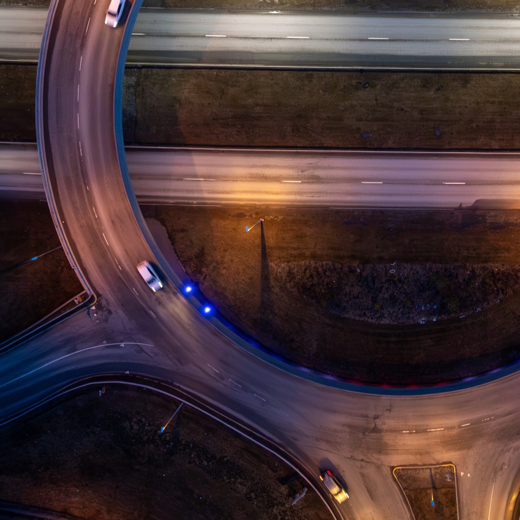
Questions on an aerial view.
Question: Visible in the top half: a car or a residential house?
car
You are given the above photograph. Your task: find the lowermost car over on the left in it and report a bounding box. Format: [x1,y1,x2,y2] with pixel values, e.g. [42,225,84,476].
[136,259,163,292]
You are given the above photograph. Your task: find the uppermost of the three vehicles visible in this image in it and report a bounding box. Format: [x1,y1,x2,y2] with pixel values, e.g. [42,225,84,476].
[105,0,125,27]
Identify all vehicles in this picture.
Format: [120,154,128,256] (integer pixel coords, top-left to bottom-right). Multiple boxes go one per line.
[136,259,163,292]
[321,468,348,503]
[105,0,125,27]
